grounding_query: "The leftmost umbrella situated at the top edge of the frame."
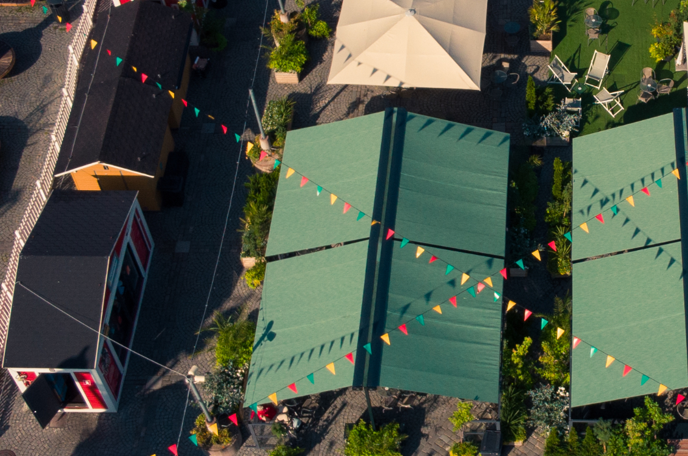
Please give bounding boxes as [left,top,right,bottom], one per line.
[327,0,486,107]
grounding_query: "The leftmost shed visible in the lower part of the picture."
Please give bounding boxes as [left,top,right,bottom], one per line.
[1,192,157,438]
